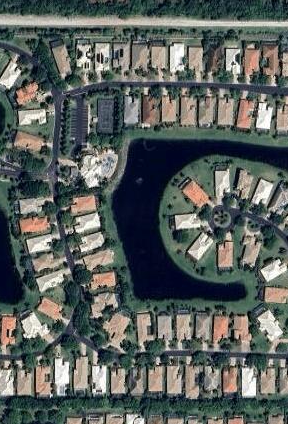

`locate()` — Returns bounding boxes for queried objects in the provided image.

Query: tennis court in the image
[98,99,114,134]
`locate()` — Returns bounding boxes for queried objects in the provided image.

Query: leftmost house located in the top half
[0,60,21,94]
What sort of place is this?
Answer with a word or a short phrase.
residential area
